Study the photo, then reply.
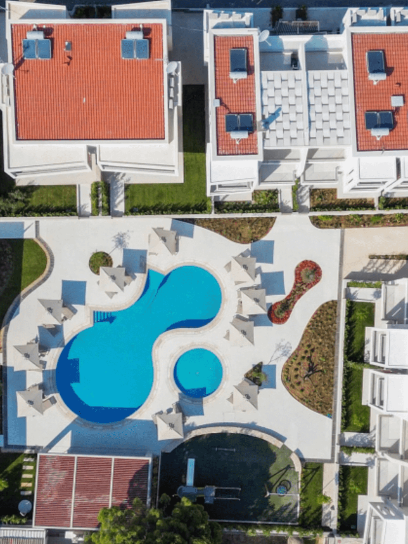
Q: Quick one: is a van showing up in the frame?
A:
No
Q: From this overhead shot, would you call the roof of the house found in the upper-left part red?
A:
Yes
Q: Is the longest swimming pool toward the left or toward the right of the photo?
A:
left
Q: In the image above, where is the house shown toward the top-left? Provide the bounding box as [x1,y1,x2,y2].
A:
[0,0,185,182]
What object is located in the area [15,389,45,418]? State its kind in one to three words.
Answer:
umbrella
